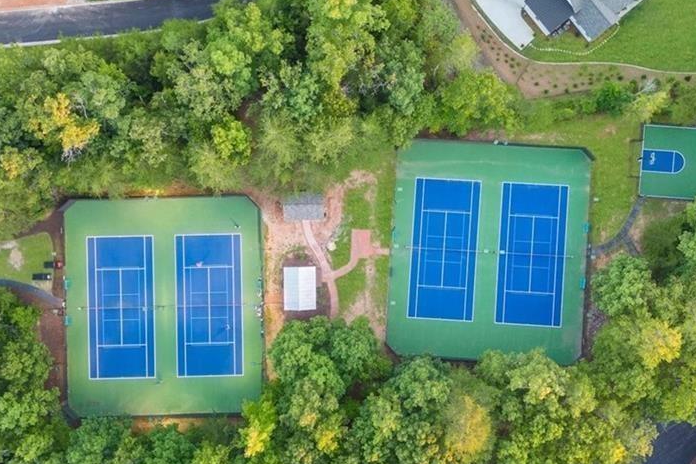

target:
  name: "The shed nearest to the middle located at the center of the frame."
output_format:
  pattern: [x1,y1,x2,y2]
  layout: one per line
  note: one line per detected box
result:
[283,196,324,221]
